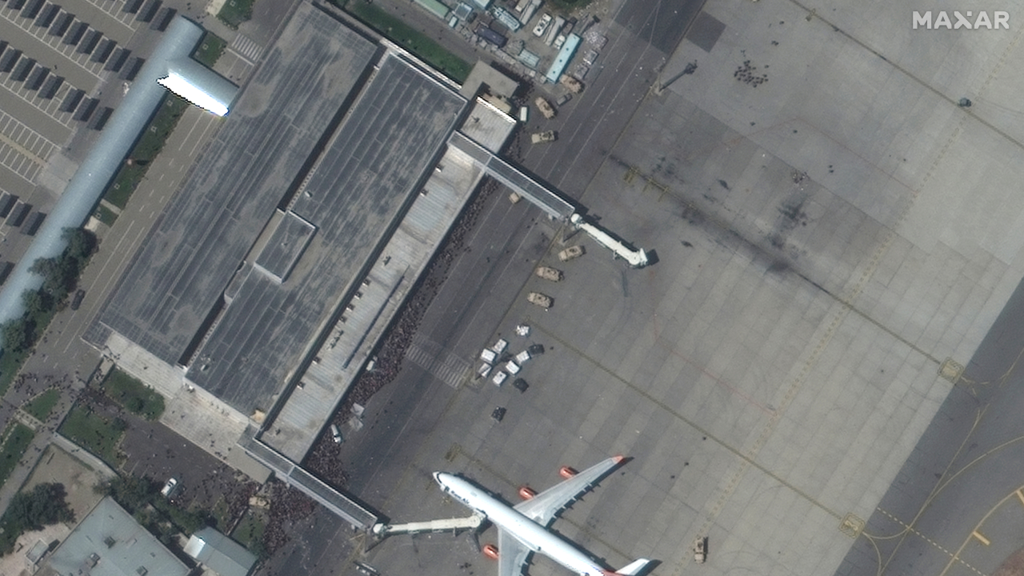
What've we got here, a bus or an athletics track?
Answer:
bus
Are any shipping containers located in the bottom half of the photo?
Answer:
No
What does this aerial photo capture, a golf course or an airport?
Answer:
airport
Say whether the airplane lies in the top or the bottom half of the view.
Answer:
bottom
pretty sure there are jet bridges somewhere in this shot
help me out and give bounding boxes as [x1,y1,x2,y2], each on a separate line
[372,507,492,542]
[570,213,653,269]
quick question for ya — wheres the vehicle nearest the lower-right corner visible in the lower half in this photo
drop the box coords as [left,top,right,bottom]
[694,534,706,563]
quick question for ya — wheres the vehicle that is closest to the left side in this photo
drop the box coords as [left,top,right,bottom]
[71,290,85,309]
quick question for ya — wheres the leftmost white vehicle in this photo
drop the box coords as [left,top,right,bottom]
[160,477,178,497]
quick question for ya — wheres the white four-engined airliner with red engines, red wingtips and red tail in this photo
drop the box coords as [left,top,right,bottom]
[434,457,653,576]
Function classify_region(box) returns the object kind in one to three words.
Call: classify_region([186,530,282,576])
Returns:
building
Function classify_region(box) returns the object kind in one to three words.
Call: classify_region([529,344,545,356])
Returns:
vehicle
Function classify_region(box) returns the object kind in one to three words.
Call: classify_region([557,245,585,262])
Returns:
vehicle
